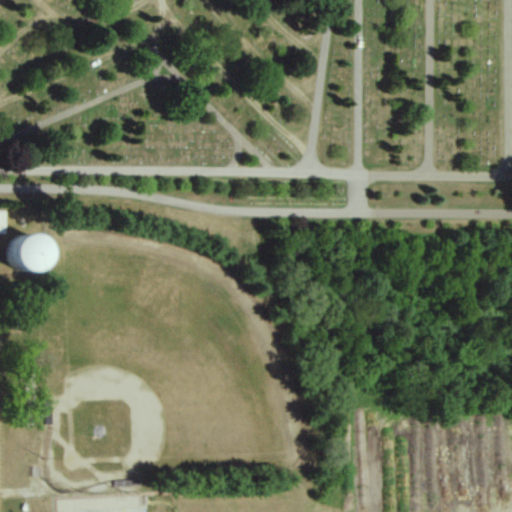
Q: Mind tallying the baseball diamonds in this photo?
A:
one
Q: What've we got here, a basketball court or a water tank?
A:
water tank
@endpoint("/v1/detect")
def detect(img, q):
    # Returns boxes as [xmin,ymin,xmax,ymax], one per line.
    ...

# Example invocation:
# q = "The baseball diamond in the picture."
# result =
[48,230,303,492]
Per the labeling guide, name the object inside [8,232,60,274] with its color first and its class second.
white water tank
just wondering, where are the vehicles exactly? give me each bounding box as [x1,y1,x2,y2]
[93,59,104,66]
[359,37,364,48]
